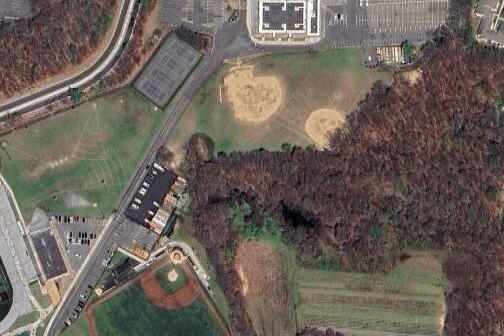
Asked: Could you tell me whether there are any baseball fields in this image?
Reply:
Yes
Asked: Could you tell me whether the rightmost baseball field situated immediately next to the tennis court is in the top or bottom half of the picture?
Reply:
top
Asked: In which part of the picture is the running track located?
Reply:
bottom left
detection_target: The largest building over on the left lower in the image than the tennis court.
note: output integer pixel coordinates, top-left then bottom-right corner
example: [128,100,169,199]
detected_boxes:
[125,162,179,231]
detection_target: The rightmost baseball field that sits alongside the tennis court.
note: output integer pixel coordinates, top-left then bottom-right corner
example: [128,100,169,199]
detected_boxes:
[220,62,309,134]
